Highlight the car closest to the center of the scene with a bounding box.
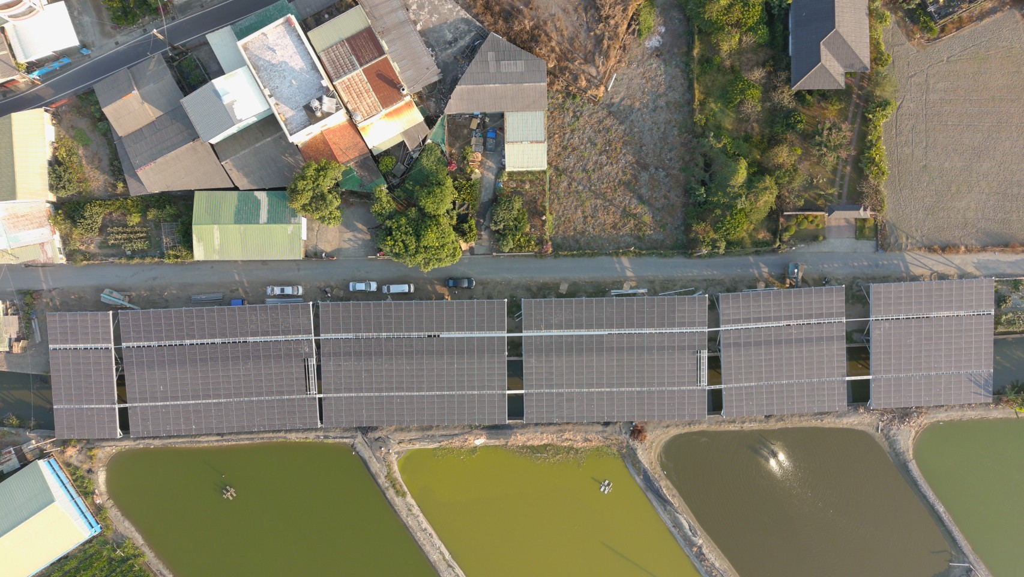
[446,277,475,290]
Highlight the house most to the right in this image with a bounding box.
[785,0,871,90]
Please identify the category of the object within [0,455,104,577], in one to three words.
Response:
building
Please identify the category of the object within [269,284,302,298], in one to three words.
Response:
car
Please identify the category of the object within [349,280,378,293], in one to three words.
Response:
vehicle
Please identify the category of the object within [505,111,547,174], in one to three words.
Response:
shed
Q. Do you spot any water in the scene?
Yes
